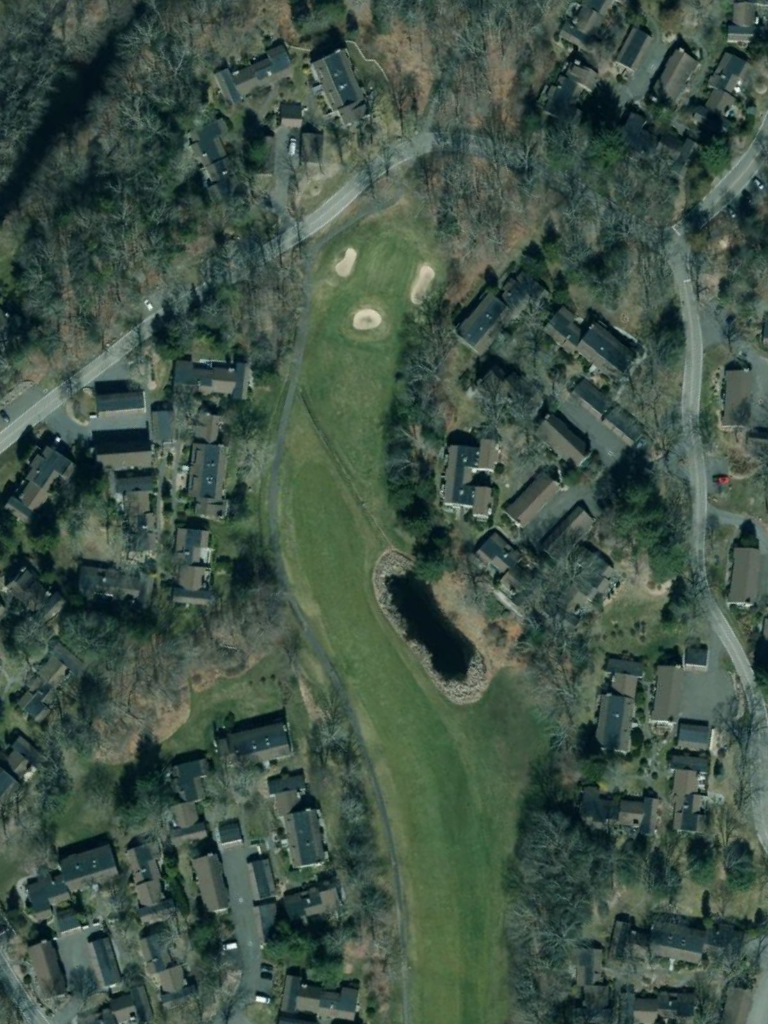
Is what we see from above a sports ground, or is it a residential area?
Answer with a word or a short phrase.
residential area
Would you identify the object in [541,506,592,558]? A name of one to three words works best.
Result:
building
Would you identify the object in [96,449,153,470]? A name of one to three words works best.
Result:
building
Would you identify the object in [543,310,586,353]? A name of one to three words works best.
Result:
house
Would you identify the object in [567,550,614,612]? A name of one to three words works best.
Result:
house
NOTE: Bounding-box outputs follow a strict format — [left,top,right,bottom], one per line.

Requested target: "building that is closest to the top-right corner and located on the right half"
[727,0,758,43]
